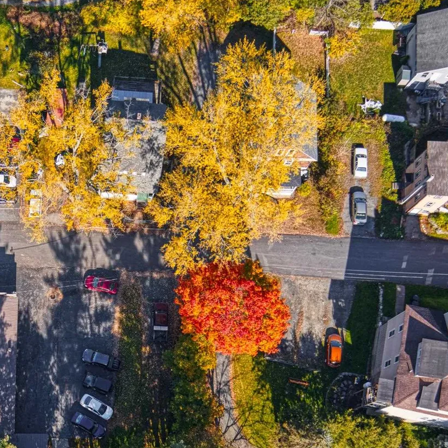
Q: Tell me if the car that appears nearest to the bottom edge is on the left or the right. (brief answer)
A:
left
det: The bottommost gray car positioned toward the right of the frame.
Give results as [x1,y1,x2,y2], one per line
[349,191,367,222]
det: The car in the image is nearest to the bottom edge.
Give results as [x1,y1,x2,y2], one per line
[71,411,106,438]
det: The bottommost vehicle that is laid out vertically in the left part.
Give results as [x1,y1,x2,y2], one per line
[151,303,169,342]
